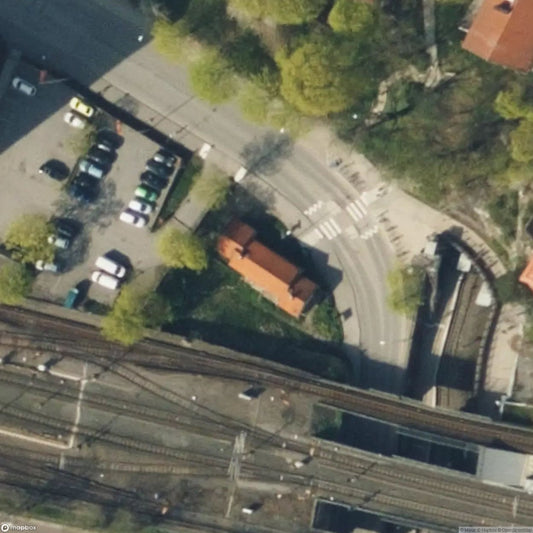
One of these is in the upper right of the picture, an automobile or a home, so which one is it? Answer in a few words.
home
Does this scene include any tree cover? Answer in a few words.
Yes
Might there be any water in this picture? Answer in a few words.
No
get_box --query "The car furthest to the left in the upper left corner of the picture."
[12,78,36,96]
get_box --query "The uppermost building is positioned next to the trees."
[461,0,533,75]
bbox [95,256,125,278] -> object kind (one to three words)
vehicle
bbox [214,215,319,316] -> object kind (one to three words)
house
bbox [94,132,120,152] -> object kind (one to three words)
car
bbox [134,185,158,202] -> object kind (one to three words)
car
